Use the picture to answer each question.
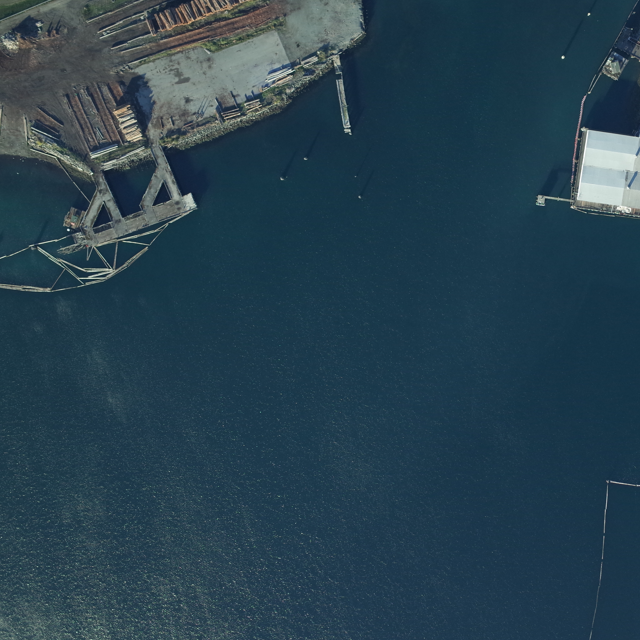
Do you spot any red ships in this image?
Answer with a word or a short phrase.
No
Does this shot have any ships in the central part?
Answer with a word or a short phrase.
No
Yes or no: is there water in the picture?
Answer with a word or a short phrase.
Yes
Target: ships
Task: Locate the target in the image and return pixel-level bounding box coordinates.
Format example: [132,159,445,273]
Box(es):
[601,52,629,80]
[63,207,85,229]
